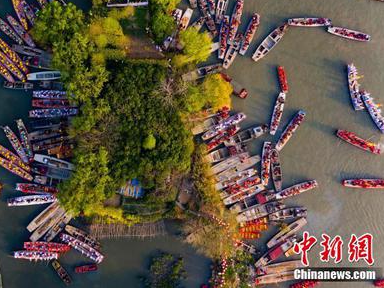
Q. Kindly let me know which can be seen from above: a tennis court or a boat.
boat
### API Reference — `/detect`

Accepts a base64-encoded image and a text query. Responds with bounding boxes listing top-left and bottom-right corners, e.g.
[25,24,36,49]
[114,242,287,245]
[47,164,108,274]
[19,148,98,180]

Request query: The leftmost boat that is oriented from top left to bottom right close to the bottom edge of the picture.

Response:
[51,260,72,286]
